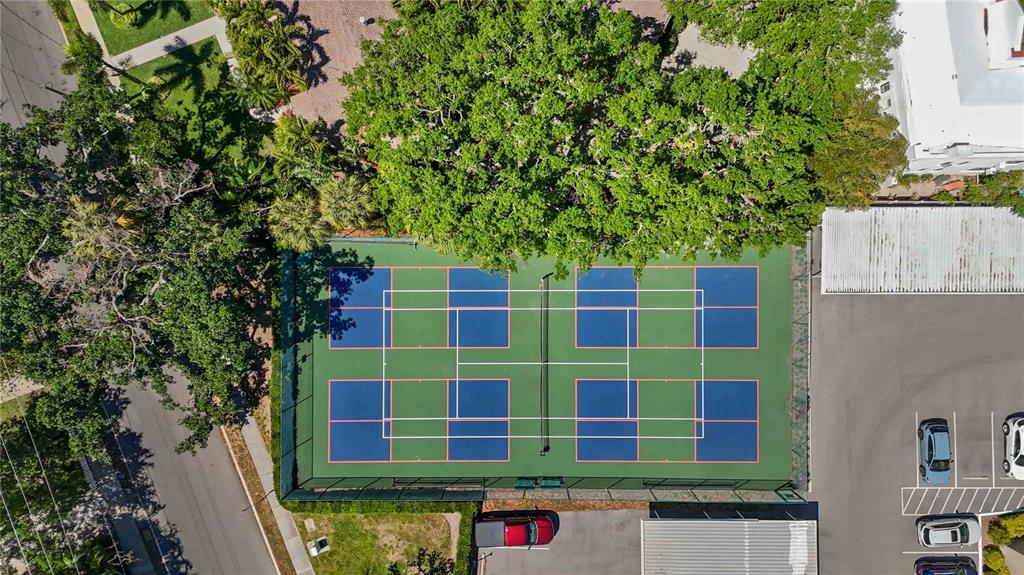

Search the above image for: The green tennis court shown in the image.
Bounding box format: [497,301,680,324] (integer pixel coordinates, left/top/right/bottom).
[297,243,789,488]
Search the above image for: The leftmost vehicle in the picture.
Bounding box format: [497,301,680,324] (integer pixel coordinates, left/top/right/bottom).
[476,515,552,551]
